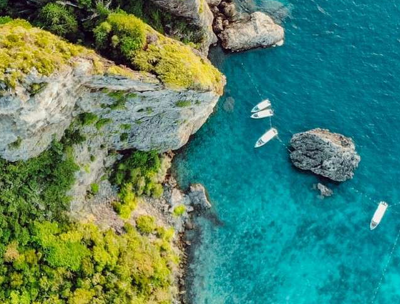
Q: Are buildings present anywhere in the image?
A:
No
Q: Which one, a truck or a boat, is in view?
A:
boat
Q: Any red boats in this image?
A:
No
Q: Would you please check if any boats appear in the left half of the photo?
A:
No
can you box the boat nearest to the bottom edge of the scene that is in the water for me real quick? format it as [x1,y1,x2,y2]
[372,199,388,229]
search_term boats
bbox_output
[255,127,279,146]
[252,98,272,111]
[251,110,275,119]
[372,199,388,229]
